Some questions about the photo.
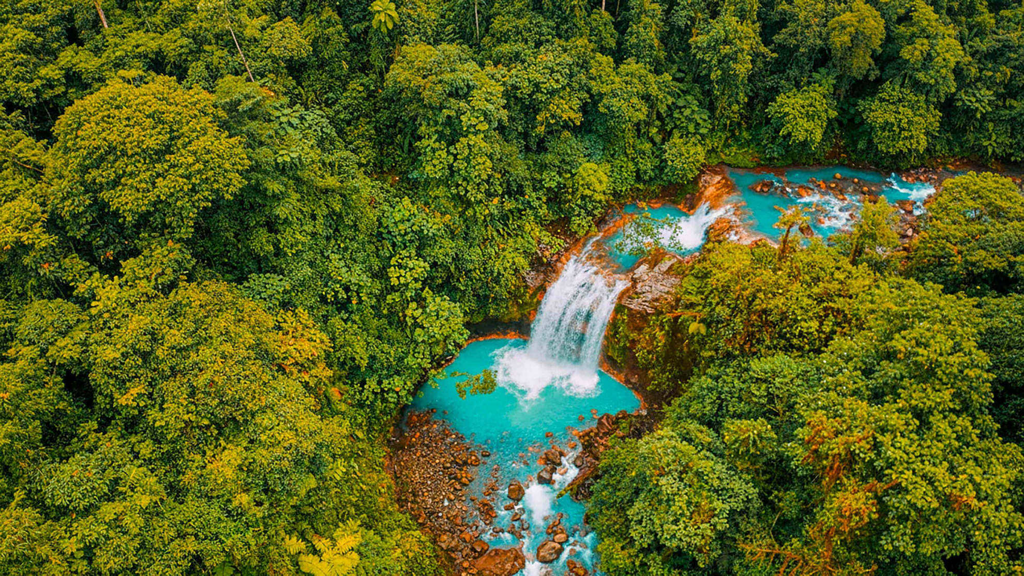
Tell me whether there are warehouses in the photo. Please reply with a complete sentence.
No, there is no warehouse in the image.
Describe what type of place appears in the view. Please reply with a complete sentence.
It's a forest.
